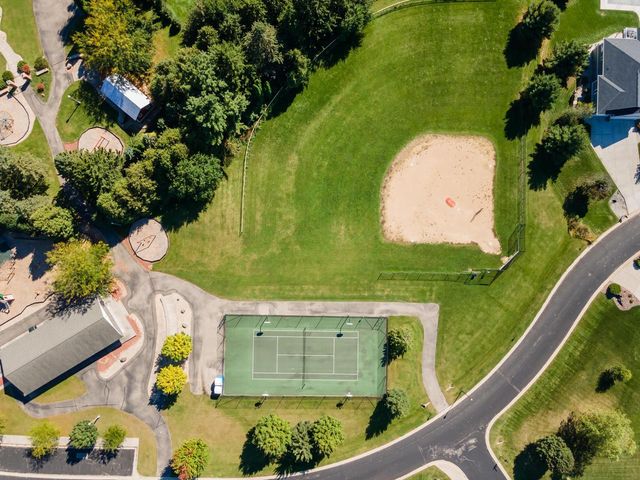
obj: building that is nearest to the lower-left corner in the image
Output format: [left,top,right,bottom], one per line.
[0,296,124,396]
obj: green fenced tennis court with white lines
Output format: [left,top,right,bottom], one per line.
[224,316,386,397]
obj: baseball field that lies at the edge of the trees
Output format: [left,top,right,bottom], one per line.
[242,0,522,298]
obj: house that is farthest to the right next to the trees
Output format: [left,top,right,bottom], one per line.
[591,38,640,114]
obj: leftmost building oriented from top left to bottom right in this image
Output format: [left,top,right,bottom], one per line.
[101,72,156,124]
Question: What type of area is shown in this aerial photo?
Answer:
sports ground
